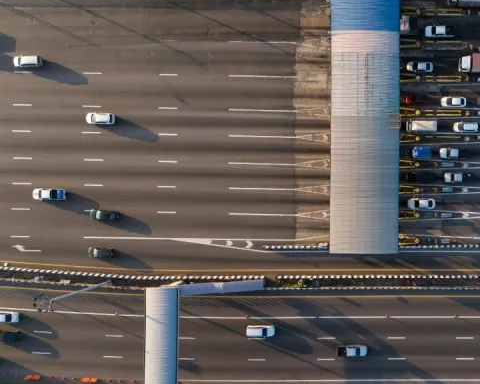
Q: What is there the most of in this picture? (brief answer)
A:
paved ground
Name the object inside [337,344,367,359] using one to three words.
vehicle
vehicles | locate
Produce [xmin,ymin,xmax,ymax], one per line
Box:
[0,311,21,325]
[405,171,437,185]
[245,325,276,339]
[459,53,480,72]
[407,60,434,73]
[88,246,116,259]
[399,17,419,33]
[440,147,471,161]
[399,146,413,160]
[407,119,439,133]
[337,344,367,359]
[446,0,480,8]
[91,208,120,222]
[407,197,435,211]
[440,94,467,108]
[453,120,478,134]
[444,170,471,184]
[13,55,44,69]
[424,24,455,38]
[405,92,428,106]
[32,187,66,201]
[86,111,116,125]
[0,331,23,345]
